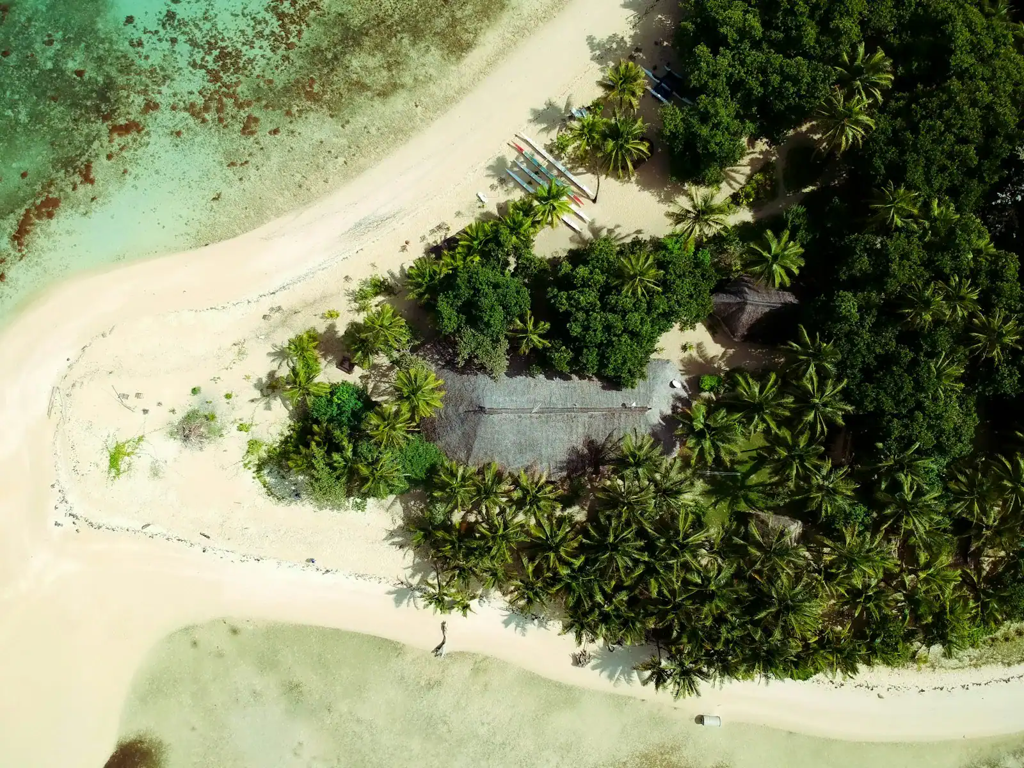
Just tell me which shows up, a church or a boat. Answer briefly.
boat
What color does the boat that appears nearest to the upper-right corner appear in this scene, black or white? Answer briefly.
black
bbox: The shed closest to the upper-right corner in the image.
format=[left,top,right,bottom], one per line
[711,273,804,345]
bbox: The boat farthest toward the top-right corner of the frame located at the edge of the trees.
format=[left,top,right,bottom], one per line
[642,54,694,108]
